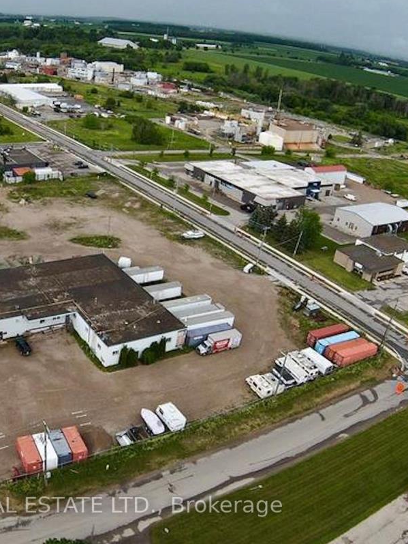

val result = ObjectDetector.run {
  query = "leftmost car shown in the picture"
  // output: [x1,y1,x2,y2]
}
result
[15,334,31,352]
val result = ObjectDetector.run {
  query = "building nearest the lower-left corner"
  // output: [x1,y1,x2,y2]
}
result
[0,254,186,367]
